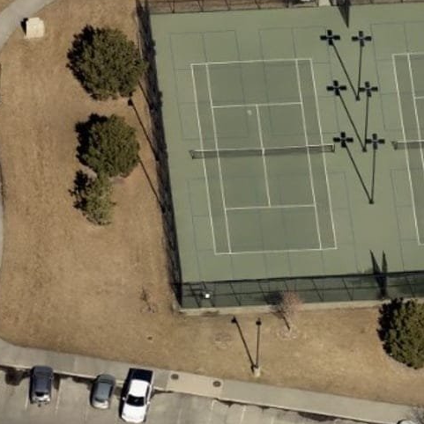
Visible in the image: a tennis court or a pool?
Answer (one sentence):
Visible in the photo is a tennis court.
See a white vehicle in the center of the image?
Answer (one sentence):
No, no white vehicle appears in the center of the image.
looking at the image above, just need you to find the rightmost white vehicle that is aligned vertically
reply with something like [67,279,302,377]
[122,368,154,424]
